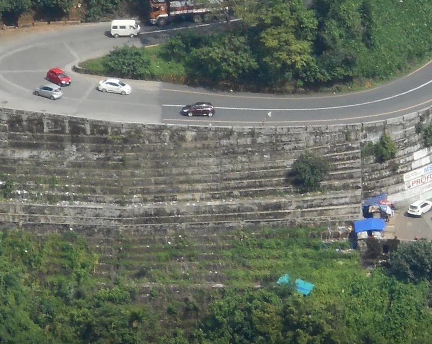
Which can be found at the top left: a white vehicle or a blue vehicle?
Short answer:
white vehicle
